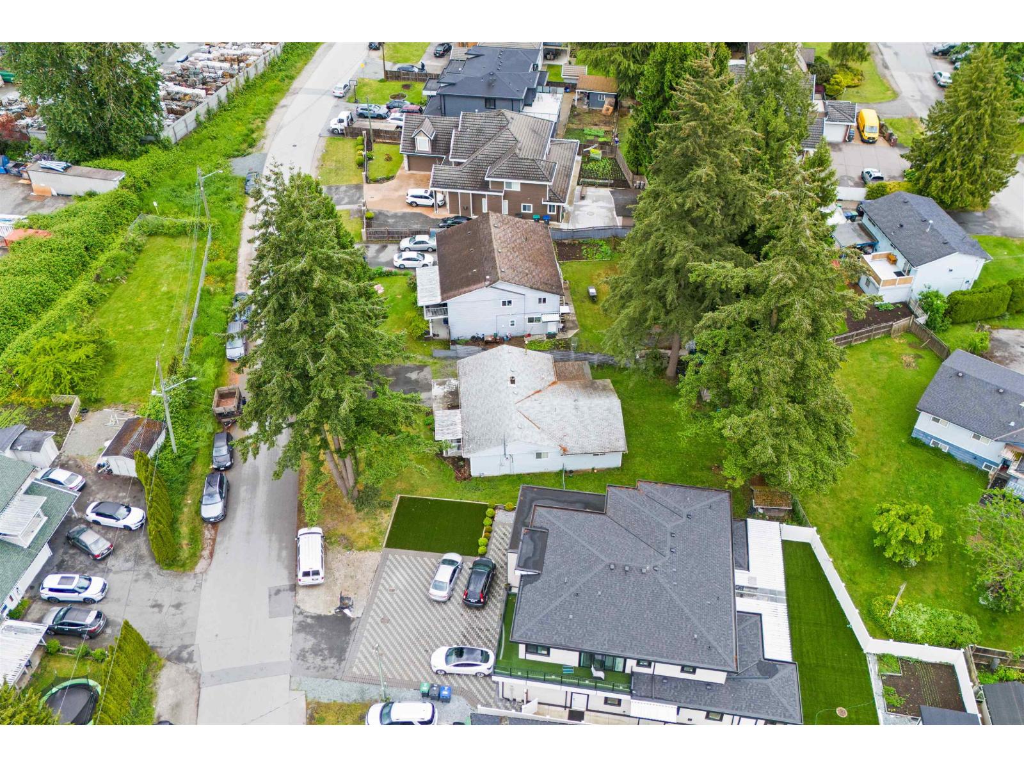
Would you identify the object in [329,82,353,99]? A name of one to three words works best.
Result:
car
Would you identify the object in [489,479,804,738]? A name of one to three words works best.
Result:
house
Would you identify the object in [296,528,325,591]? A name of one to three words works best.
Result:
van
